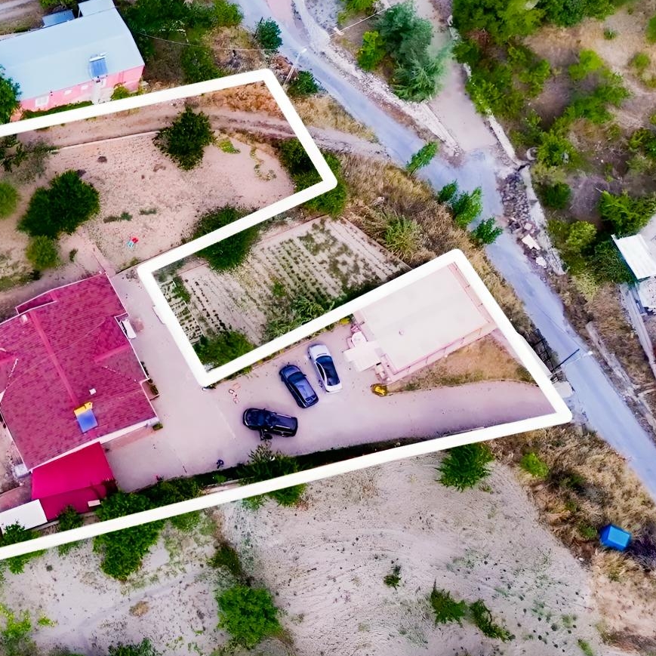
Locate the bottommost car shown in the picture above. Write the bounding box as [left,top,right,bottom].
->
[242,406,300,447]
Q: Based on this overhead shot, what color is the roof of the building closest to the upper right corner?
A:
white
